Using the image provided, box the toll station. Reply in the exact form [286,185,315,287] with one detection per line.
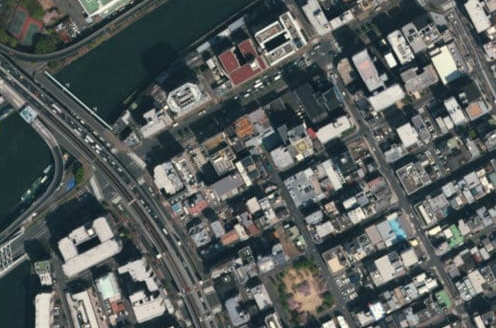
[17,105,35,123]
